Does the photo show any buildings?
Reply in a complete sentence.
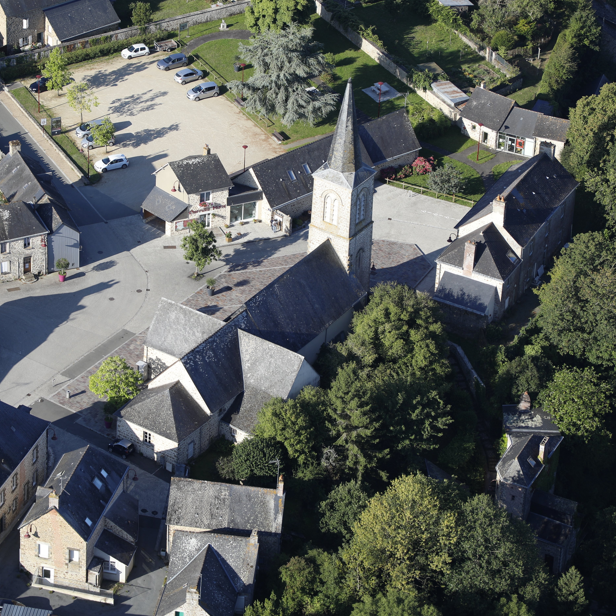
Yes, a building can be made out from above.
